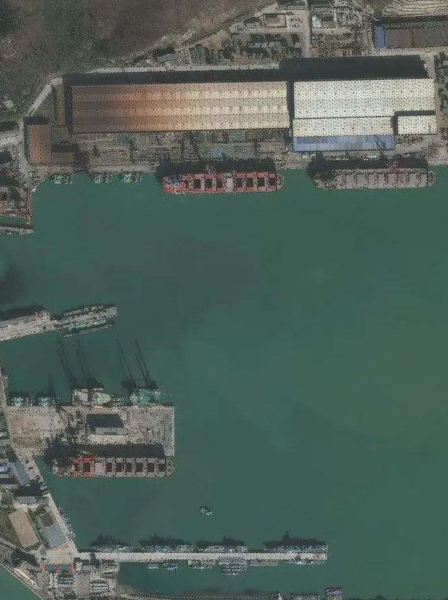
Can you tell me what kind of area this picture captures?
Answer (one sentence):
The area seen from above is a port.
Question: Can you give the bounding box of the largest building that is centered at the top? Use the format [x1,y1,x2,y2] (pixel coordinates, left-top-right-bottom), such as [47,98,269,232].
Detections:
[73,80,289,132]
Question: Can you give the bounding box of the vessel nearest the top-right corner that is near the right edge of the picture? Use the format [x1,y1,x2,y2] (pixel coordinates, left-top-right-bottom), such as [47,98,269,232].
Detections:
[315,168,437,189]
